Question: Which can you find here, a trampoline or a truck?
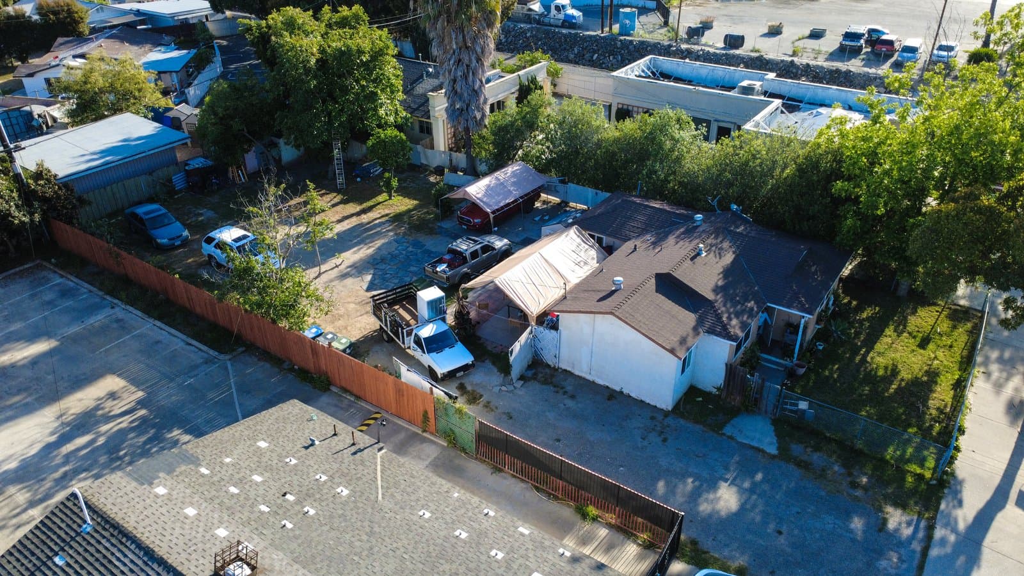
truck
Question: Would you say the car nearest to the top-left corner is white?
No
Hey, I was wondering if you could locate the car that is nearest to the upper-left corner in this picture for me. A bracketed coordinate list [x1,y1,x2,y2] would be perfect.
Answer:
[117,203,191,250]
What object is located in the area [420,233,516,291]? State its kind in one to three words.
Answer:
truck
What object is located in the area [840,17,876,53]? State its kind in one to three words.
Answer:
car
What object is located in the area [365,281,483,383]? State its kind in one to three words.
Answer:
truck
